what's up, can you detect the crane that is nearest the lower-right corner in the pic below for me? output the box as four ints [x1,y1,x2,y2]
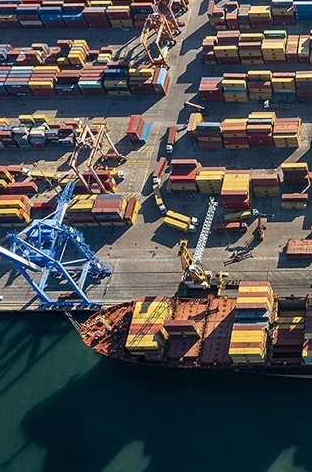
[161,196,250,296]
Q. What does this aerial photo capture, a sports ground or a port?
port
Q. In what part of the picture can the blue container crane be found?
left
